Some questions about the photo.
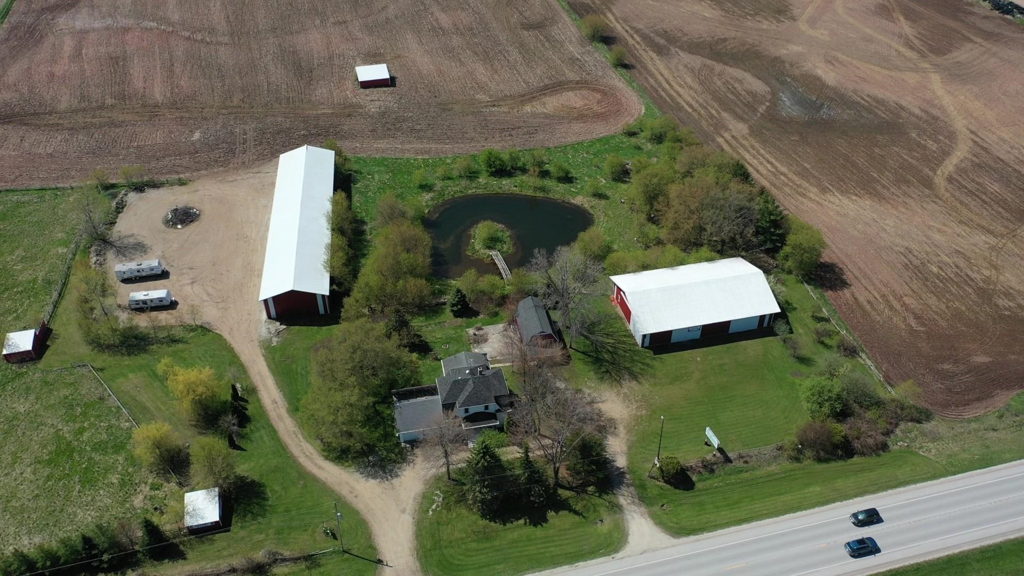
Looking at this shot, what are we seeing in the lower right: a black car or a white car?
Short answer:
black car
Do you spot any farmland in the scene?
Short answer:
Yes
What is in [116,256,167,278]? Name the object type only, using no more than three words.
trailer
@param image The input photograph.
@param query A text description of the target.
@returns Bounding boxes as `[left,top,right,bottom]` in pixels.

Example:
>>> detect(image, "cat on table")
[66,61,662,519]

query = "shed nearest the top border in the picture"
[356,64,391,89]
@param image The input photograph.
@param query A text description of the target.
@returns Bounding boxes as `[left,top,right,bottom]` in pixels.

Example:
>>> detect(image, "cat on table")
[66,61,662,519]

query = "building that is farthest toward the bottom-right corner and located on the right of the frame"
[610,258,781,349]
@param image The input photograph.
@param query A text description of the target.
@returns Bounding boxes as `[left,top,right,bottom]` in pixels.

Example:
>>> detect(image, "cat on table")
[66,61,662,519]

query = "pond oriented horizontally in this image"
[422,193,593,281]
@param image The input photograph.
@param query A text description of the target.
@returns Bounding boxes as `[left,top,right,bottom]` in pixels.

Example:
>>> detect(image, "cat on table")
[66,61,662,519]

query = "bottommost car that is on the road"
[846,536,880,557]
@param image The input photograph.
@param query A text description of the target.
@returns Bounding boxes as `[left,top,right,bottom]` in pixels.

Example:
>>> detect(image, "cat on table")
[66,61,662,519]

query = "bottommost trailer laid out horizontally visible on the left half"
[127,285,177,307]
